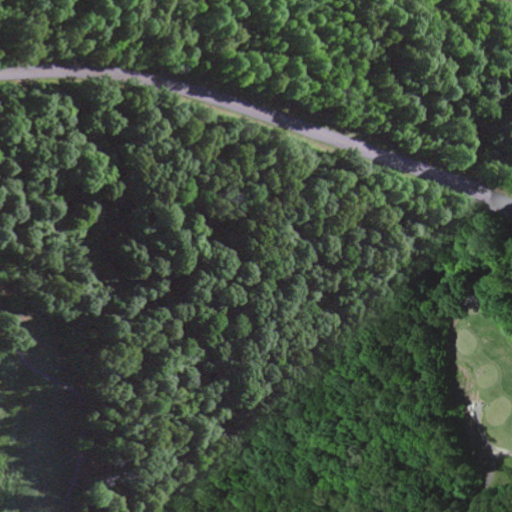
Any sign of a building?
No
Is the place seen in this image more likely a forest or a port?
forest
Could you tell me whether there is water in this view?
No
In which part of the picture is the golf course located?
bottom right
